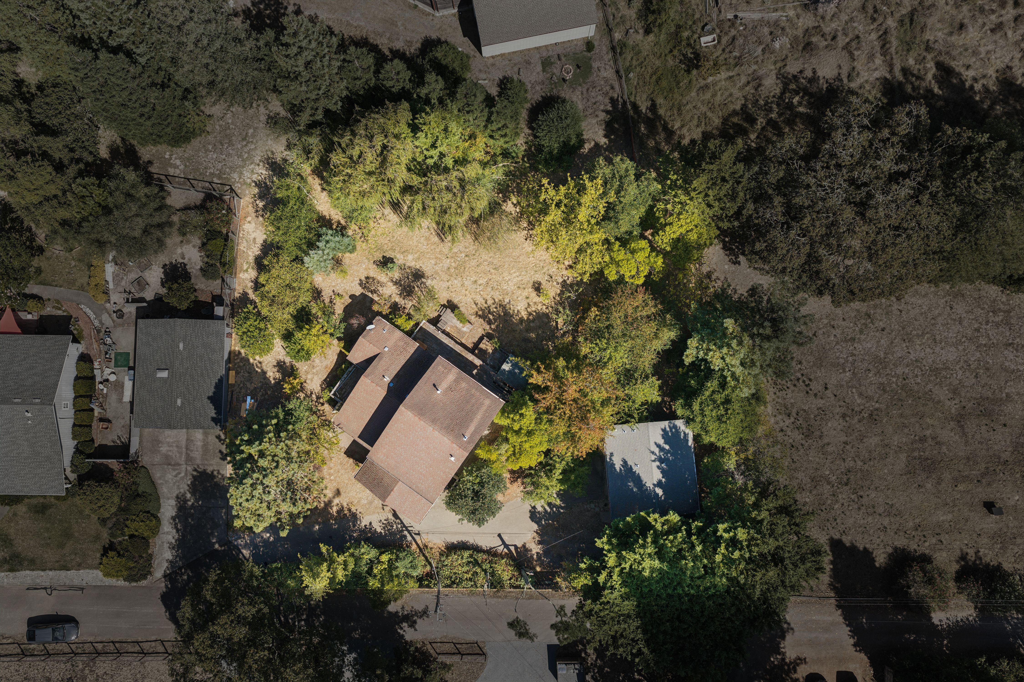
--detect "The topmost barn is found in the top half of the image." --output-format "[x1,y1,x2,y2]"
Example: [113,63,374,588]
[472,0,599,54]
